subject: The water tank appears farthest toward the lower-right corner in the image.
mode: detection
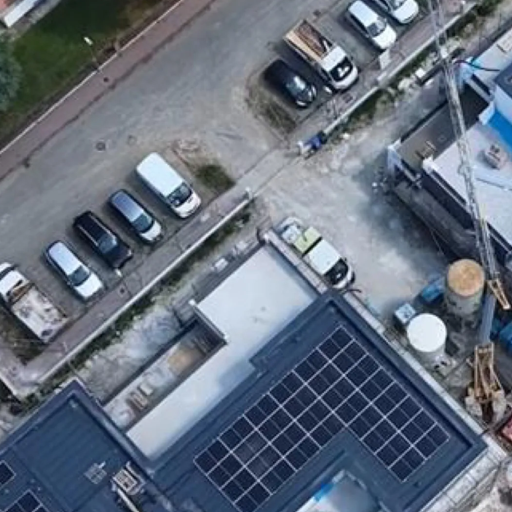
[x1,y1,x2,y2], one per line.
[407,314,447,359]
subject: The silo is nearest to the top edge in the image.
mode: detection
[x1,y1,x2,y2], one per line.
[447,260,485,308]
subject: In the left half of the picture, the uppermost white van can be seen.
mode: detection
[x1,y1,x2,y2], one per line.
[135,150,202,218]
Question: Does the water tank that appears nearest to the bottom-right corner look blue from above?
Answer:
No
